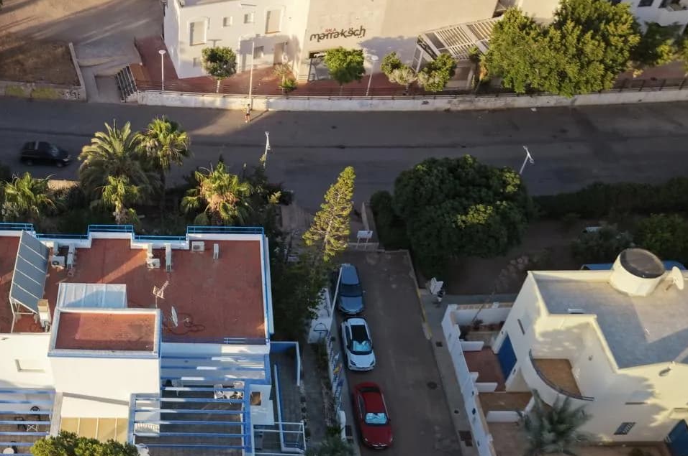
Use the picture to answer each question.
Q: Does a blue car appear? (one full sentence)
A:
Yes, the image includes a blue car.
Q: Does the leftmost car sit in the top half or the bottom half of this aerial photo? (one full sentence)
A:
You can find the leftmost car in the top half.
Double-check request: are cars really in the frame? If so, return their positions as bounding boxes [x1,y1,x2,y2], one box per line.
[13,138,76,172]
[336,259,374,313]
[356,381,404,453]
[344,313,387,374]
